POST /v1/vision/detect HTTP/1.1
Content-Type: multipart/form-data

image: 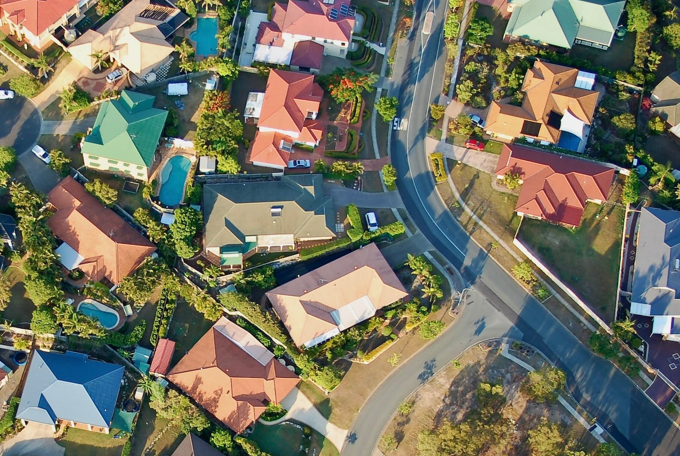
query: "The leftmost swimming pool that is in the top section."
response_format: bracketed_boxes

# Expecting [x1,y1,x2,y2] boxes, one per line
[156,153,194,208]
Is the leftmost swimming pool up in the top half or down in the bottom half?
bottom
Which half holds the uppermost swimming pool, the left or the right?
left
